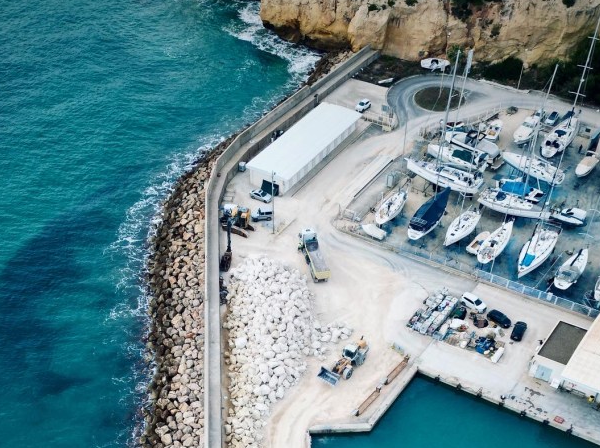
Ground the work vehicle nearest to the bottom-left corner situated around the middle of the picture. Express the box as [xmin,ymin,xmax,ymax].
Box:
[221,205,258,263]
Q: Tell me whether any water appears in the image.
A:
Yes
